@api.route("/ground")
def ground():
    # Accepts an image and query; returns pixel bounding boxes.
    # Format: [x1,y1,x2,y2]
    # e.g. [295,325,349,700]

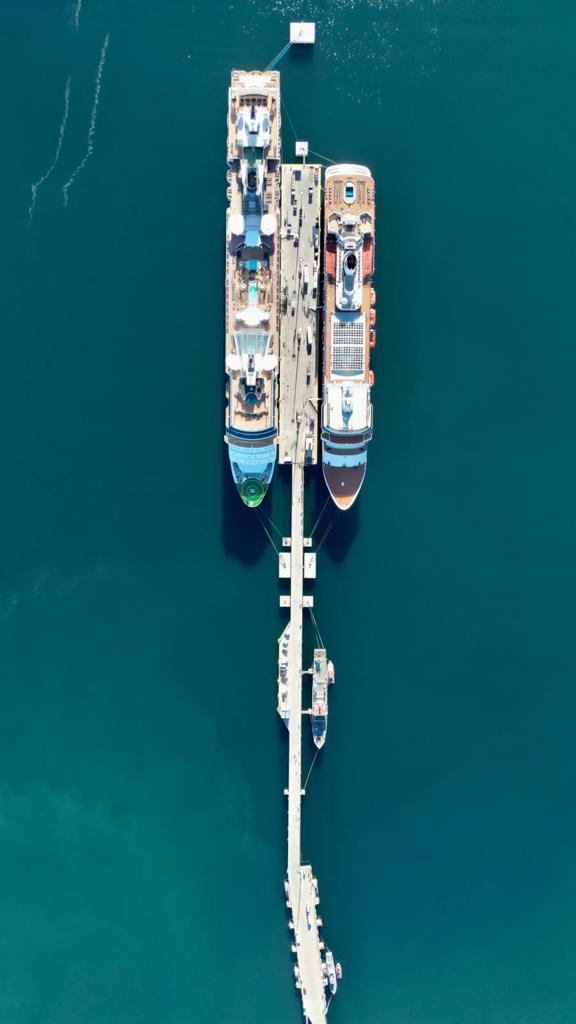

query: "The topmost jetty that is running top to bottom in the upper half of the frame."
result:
[279,164,323,464]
